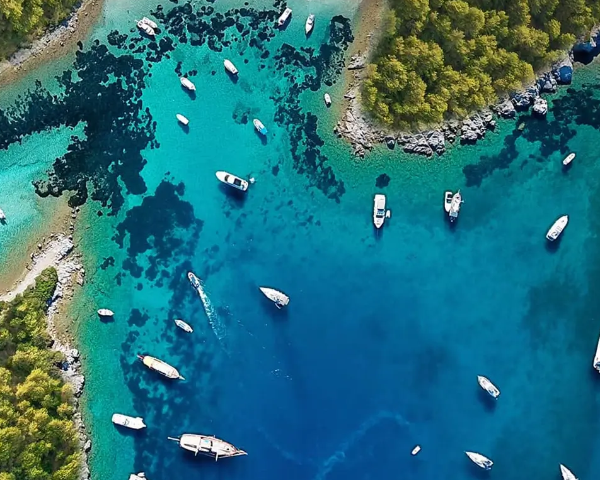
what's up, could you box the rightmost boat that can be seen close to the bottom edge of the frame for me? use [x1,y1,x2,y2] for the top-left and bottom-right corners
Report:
[560,465,578,480]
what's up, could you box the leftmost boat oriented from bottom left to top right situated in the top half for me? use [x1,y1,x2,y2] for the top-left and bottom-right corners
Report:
[279,6,293,25]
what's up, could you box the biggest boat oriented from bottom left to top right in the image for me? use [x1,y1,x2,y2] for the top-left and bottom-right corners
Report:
[547,216,569,243]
